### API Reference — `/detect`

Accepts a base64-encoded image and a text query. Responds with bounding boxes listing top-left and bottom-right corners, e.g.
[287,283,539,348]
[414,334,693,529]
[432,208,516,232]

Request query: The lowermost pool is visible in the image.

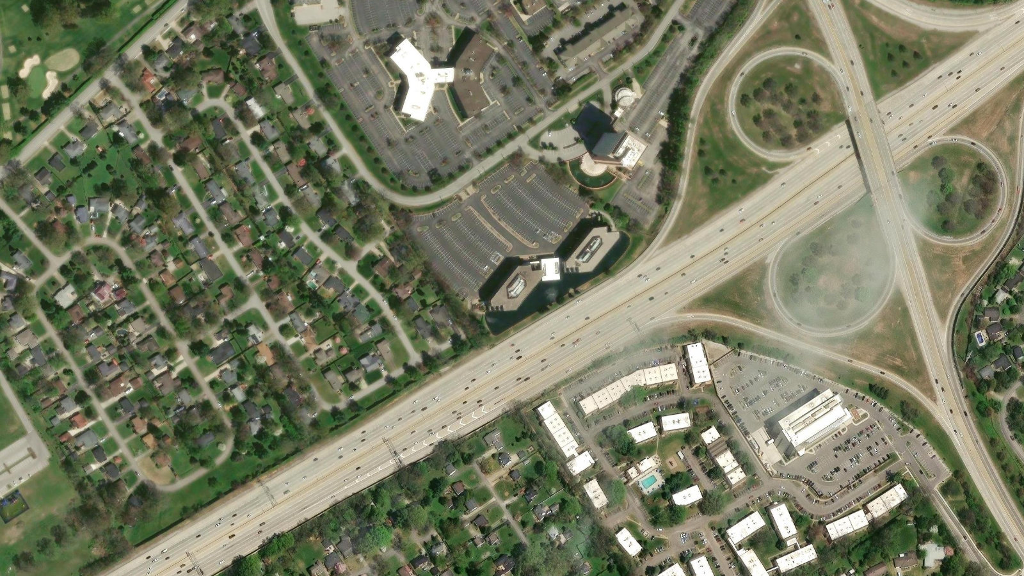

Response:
[636,467,664,493]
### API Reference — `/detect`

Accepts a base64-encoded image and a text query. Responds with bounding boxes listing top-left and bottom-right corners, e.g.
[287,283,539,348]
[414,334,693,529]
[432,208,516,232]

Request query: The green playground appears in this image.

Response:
[0,490,29,524]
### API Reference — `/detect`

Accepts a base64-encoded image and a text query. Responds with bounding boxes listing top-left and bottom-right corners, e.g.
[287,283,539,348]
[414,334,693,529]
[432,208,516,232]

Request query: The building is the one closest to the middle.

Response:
[485,266,542,313]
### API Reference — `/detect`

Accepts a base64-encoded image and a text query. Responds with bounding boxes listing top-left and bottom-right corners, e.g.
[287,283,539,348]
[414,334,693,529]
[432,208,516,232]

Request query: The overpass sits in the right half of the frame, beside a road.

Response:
[842,92,906,210]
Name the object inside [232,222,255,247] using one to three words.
house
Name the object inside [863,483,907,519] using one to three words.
building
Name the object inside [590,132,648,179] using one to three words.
building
